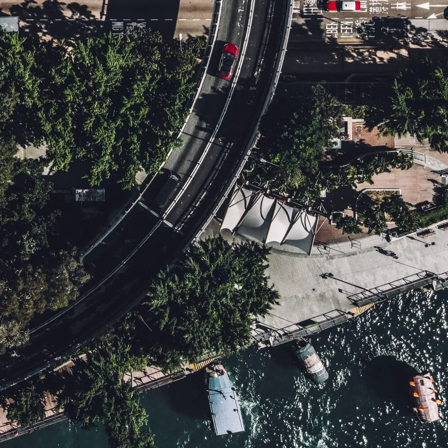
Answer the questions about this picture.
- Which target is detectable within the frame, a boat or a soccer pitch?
boat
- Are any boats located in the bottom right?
Yes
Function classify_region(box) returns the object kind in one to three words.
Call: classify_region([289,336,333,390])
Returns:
boat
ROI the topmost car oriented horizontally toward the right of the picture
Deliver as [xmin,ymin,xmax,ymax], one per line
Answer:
[328,0,360,13]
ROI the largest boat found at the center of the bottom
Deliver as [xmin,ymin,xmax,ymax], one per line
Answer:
[199,366,240,438]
